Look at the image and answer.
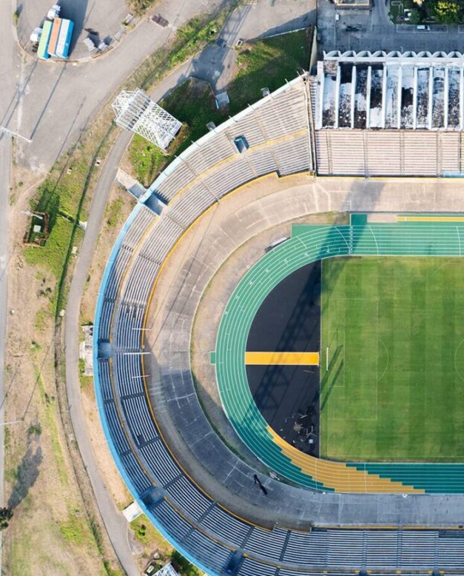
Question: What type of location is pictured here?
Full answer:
It's a sports ground.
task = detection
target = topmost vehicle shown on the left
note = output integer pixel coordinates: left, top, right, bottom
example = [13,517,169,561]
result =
[46,5,61,22]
